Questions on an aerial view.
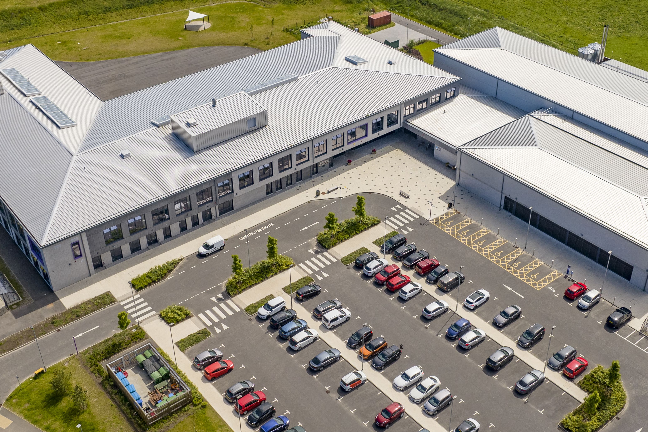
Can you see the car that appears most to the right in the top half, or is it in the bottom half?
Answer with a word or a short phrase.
bottom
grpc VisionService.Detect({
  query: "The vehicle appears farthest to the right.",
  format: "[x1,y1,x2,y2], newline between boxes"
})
[604,308,633,330]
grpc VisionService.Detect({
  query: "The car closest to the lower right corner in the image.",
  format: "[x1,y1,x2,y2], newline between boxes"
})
[561,359,590,382]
